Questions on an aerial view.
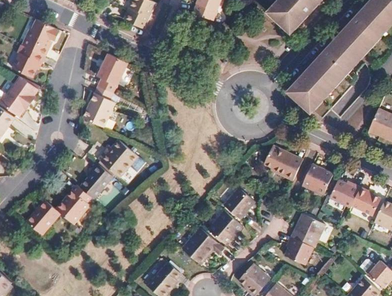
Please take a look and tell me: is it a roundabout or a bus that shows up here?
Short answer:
roundabout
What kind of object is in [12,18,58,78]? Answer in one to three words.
house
